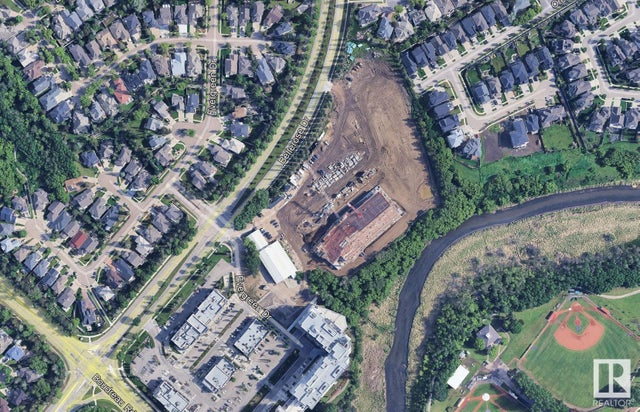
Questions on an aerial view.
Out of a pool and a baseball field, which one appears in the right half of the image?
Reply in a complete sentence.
It is a baseball field that can be seen in the right half of the image.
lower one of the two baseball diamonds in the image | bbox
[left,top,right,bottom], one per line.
[454,382,526,412]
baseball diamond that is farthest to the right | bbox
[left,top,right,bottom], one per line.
[519,293,640,410]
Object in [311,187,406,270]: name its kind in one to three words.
building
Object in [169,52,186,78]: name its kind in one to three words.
house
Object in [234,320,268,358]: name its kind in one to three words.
building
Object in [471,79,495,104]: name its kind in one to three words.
house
